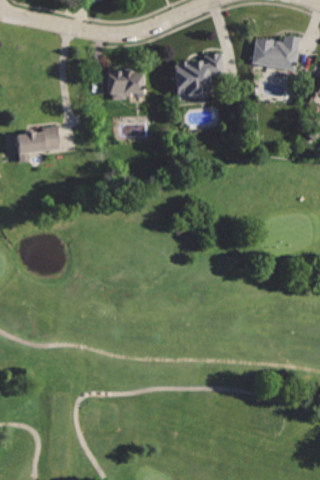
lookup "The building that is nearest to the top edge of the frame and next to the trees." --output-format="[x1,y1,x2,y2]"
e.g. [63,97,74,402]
[254,36,302,72]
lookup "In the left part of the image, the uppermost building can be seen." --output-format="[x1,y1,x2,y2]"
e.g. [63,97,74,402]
[109,72,146,102]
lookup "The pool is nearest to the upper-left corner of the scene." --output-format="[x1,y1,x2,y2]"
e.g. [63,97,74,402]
[112,116,148,142]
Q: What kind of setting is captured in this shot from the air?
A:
golf course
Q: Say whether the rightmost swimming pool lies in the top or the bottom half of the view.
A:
top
